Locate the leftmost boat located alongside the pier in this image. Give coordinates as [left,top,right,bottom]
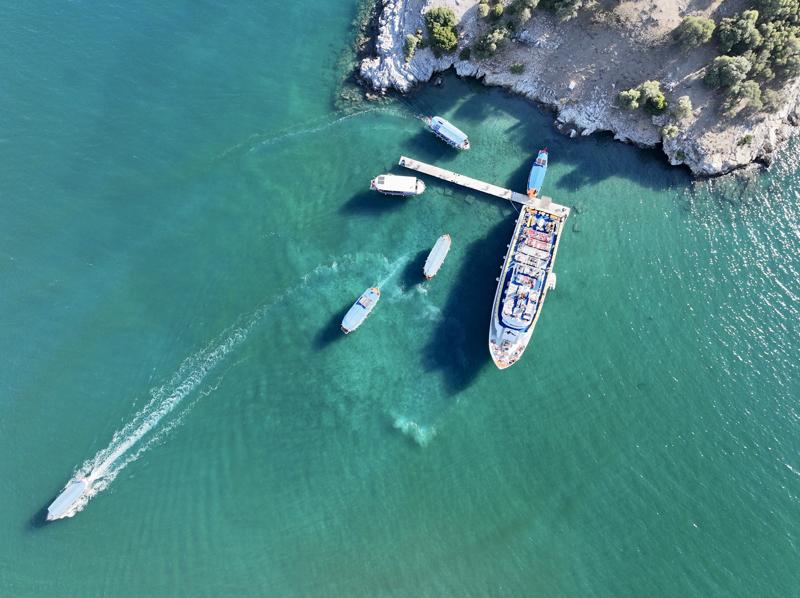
[368,175,427,196]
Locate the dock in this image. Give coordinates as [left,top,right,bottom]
[398,156,573,220]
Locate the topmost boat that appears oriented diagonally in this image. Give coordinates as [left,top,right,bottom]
[423,113,471,149]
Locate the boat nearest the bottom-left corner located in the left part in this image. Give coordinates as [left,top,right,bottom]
[44,475,95,523]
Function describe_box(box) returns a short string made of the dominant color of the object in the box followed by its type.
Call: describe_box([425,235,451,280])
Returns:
white boat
